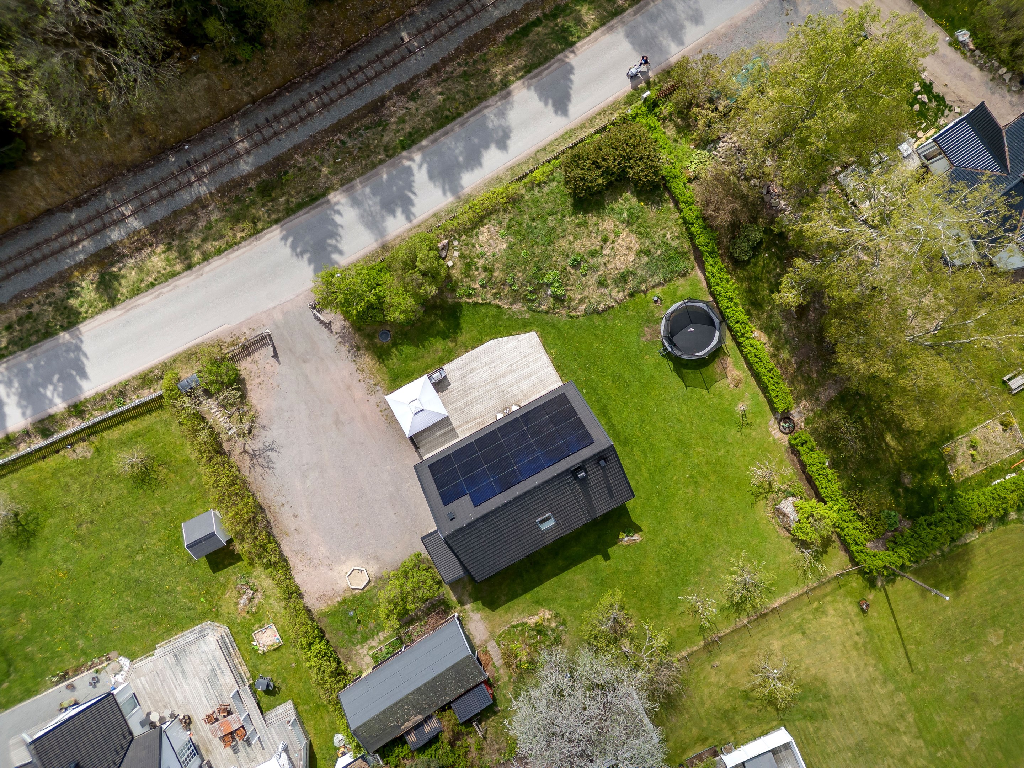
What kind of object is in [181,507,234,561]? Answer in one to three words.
shed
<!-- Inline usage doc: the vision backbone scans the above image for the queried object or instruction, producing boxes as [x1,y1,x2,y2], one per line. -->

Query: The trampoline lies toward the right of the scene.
[656,295,729,361]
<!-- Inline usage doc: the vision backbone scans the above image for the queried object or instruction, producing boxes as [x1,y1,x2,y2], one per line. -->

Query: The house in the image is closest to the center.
[413,379,637,584]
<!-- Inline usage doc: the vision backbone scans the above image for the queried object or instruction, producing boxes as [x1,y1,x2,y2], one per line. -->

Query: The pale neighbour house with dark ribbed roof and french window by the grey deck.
[16,685,201,768]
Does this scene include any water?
No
